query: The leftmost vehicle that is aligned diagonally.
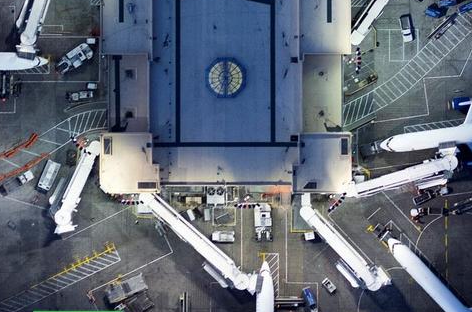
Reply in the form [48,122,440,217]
[0,170,34,197]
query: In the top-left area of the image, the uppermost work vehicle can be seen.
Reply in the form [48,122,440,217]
[55,38,94,74]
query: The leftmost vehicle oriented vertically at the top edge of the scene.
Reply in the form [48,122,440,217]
[401,14,413,41]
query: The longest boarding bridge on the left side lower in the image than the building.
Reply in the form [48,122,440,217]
[77,192,263,311]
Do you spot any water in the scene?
No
